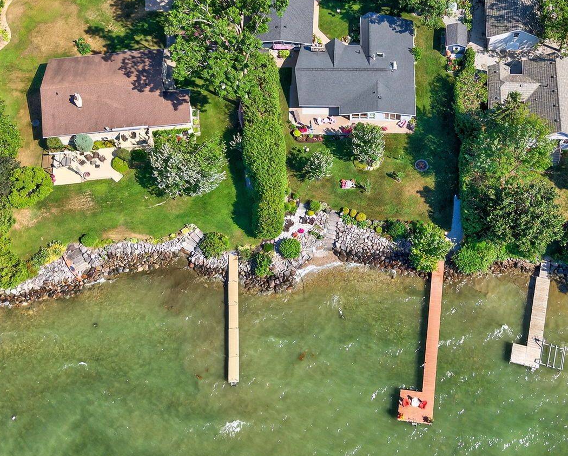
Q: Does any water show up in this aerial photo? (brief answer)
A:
Yes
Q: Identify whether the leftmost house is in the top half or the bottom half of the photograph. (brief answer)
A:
top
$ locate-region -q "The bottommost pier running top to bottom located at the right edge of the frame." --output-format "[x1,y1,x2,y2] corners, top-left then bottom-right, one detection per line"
[508,277,550,369]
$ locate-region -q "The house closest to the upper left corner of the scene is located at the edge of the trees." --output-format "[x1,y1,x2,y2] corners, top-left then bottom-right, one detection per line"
[39,49,194,146]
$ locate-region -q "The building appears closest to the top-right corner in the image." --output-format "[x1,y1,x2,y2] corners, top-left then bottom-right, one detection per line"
[484,0,541,57]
